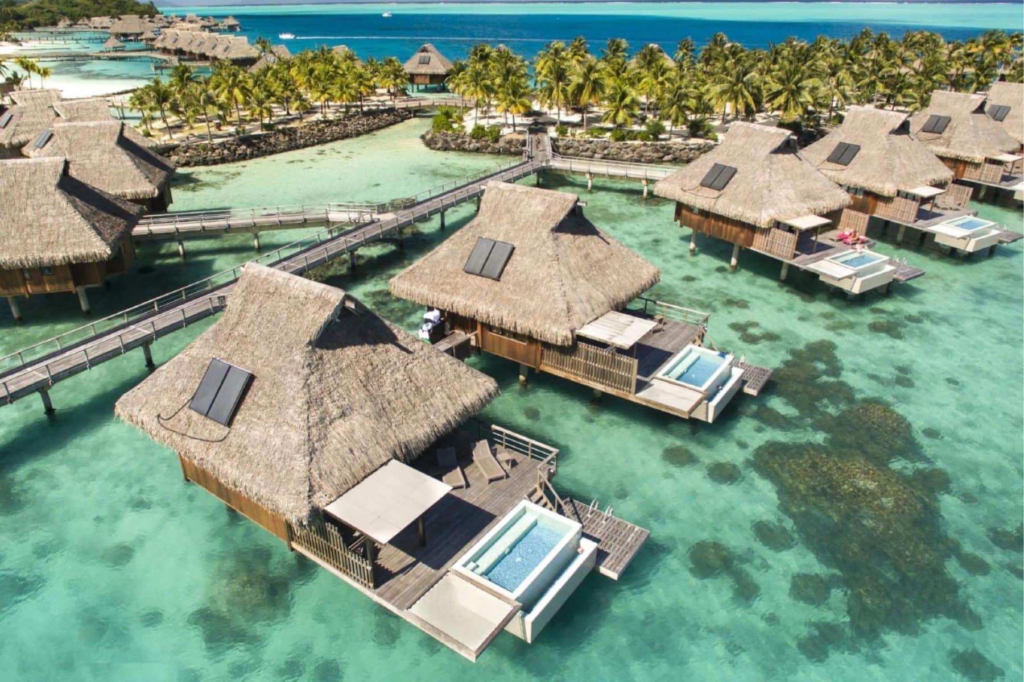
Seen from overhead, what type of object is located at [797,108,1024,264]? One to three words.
house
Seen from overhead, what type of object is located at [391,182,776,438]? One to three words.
house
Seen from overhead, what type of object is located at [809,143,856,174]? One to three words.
solar panel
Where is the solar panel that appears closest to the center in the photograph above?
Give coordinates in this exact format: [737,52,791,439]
[459,245,507,288]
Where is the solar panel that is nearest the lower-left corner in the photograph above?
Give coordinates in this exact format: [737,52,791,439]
[172,355,253,439]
